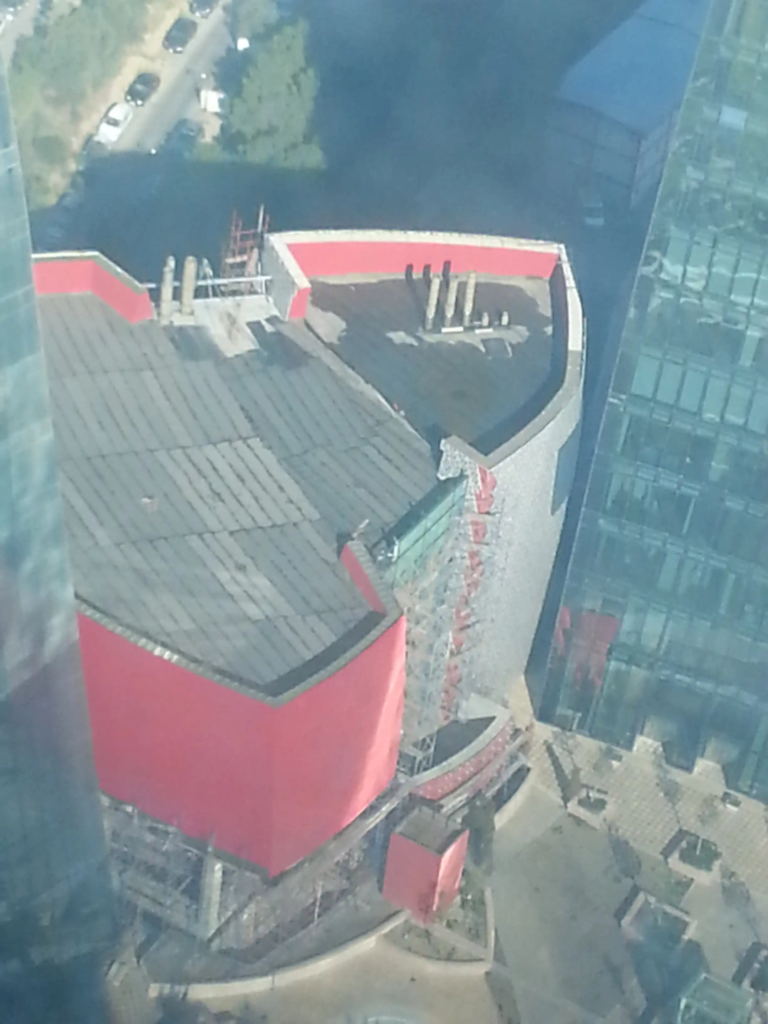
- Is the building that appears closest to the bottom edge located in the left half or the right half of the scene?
right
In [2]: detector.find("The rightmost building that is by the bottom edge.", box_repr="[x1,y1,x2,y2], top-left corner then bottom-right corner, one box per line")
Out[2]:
[671,973,754,1024]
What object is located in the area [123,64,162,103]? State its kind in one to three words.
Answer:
car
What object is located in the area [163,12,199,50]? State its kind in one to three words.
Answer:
car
